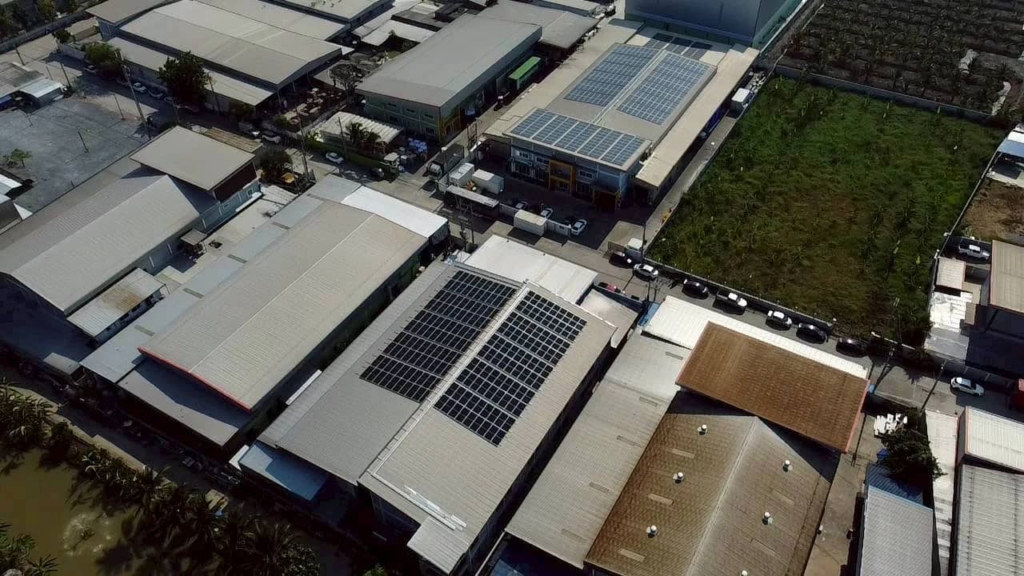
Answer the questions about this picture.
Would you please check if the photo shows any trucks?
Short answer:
Yes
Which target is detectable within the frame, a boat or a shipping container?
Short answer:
shipping container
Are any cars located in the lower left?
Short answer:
No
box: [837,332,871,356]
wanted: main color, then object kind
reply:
black car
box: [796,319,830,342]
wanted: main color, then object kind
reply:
black car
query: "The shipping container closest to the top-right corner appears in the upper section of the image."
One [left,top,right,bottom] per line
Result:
[509,206,551,237]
